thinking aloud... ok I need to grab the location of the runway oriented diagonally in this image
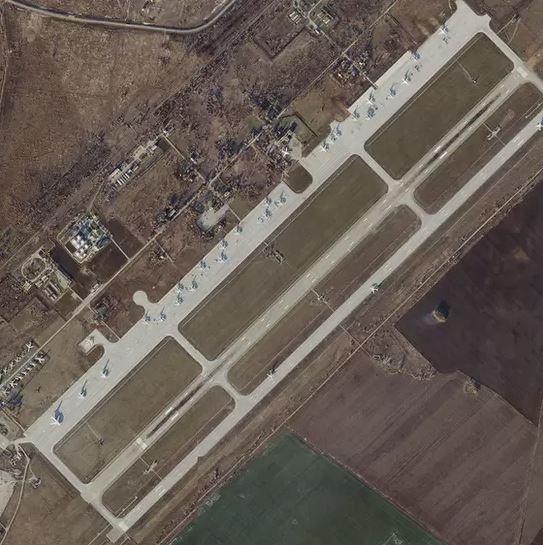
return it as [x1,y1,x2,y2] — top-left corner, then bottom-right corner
[85,64,532,499]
